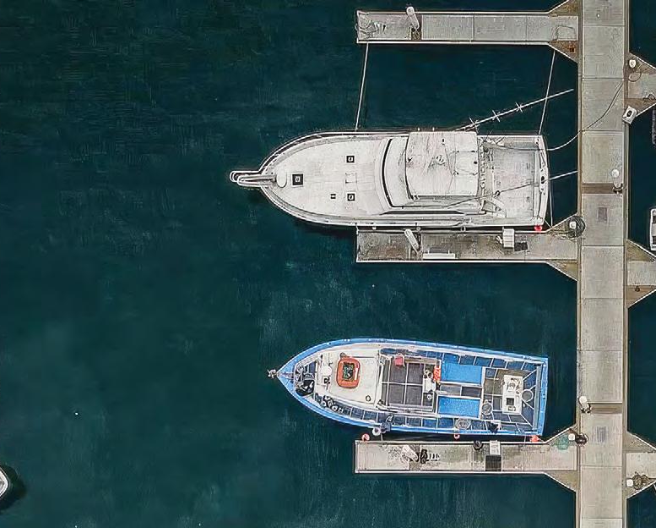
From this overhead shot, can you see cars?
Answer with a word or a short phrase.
No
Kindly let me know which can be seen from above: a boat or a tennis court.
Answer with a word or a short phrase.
boat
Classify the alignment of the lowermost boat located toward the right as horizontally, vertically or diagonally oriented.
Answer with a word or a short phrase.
horizontally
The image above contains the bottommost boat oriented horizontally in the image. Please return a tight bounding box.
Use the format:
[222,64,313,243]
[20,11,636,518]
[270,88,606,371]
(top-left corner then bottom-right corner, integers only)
[267,337,550,435]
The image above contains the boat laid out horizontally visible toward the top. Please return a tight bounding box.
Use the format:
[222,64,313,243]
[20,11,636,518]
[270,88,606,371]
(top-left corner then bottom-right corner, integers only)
[230,88,574,229]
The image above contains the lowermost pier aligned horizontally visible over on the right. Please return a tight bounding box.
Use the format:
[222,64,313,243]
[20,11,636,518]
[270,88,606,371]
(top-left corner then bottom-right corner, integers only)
[355,425,576,492]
